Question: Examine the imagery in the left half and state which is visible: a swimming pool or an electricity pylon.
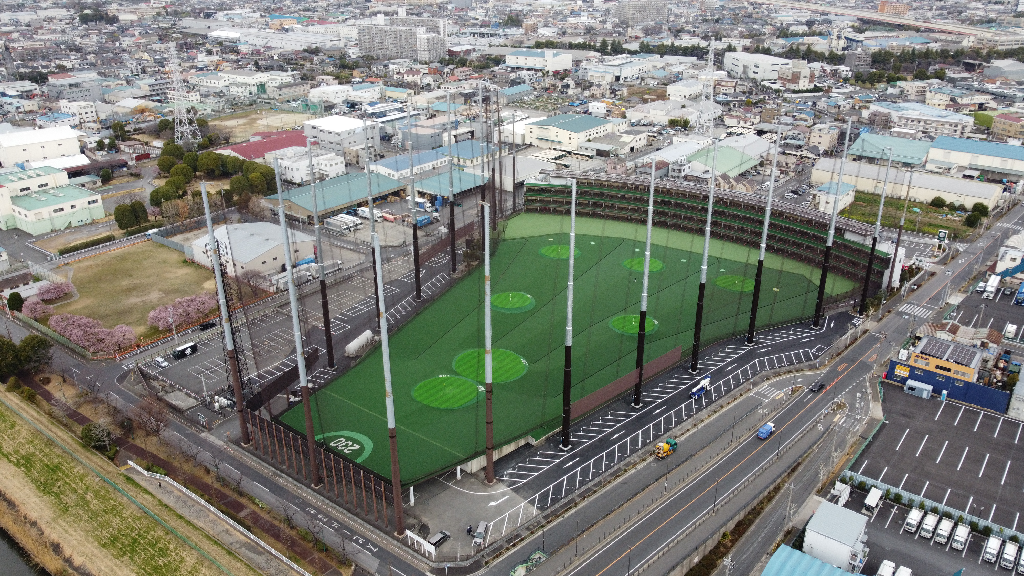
electricity pylon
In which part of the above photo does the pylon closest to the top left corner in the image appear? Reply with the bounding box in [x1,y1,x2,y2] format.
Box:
[169,42,203,144]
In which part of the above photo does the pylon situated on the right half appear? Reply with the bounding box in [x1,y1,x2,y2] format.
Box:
[686,37,722,136]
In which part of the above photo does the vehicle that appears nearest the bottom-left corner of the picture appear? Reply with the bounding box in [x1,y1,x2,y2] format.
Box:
[156,355,168,368]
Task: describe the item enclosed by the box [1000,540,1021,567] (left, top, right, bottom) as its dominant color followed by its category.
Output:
white truck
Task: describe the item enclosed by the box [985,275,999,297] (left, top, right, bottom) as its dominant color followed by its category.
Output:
white vehicle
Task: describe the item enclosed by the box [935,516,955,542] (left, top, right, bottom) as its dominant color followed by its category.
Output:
white vehicle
